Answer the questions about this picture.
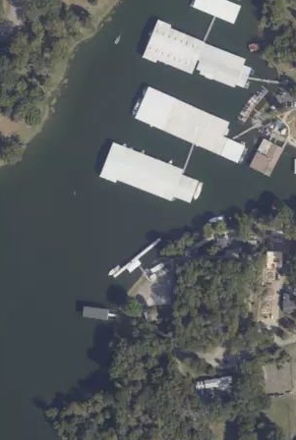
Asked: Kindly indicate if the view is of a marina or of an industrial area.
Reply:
marina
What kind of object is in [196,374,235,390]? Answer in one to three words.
house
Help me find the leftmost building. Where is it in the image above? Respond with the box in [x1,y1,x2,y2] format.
[82,306,108,320]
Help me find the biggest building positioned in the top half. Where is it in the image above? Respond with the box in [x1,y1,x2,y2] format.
[250,138,283,176]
